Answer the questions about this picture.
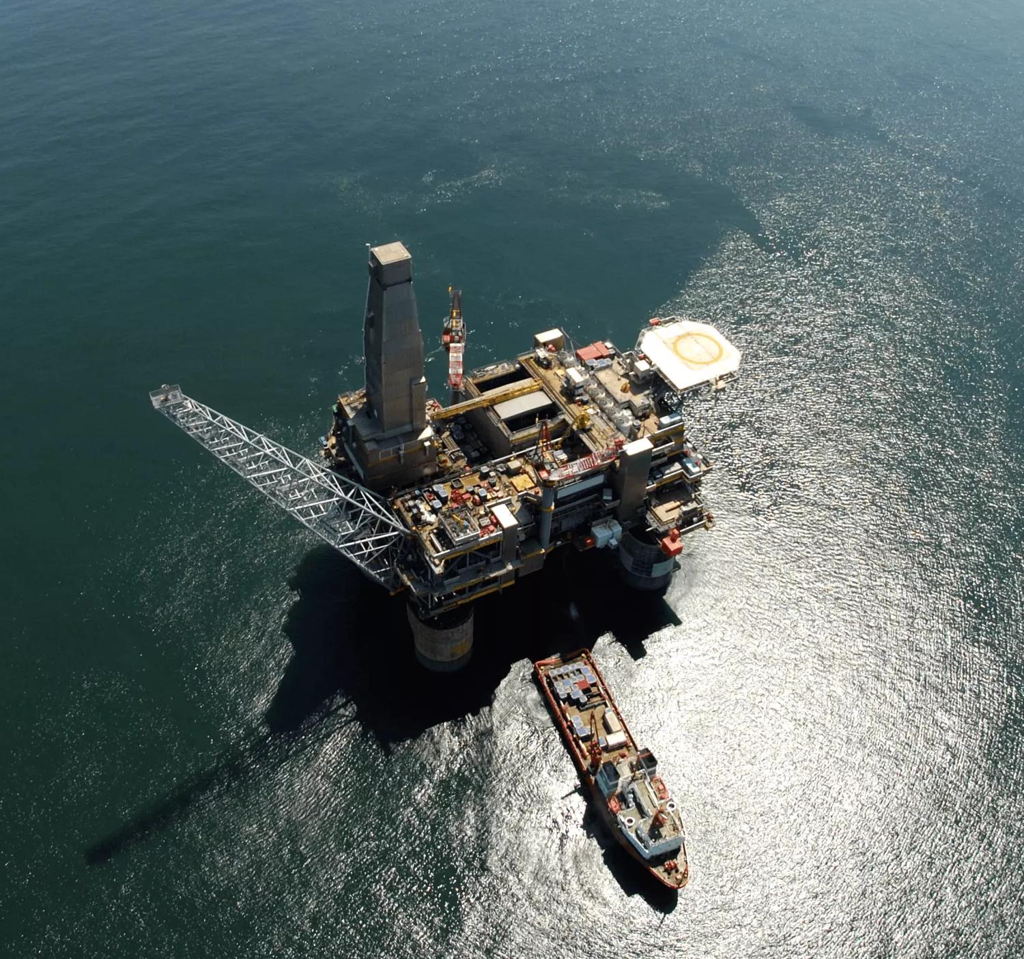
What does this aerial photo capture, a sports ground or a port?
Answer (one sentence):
The picture captures a port.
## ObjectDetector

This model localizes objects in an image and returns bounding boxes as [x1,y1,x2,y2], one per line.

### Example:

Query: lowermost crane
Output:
[587,710,605,771]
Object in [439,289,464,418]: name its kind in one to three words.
crane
